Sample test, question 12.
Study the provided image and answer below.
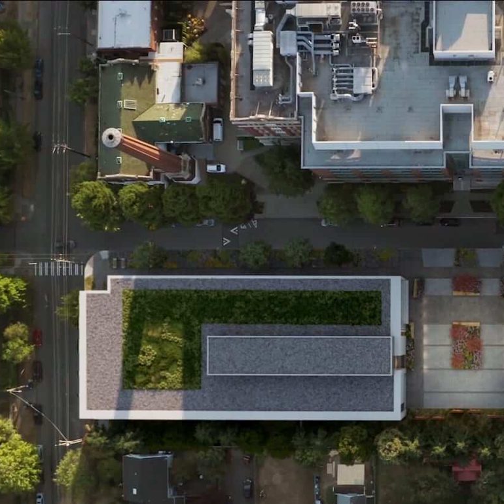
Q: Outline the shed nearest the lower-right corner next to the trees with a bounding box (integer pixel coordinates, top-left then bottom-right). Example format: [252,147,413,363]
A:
[452,461,481,482]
